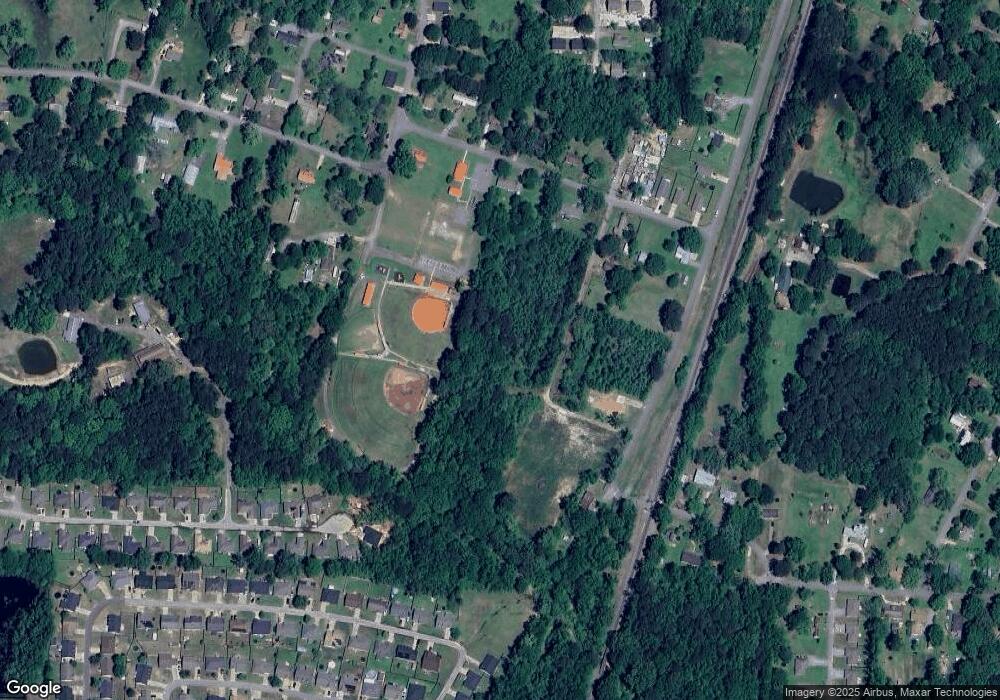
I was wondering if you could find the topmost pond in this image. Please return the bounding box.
[791,170,843,213]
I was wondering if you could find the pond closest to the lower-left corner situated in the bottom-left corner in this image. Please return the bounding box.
[0,576,38,674]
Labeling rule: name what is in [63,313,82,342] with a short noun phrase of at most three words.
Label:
barn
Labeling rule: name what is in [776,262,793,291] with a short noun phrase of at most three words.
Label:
barn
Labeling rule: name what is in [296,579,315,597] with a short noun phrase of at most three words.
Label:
house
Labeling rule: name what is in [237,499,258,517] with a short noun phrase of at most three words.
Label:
house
